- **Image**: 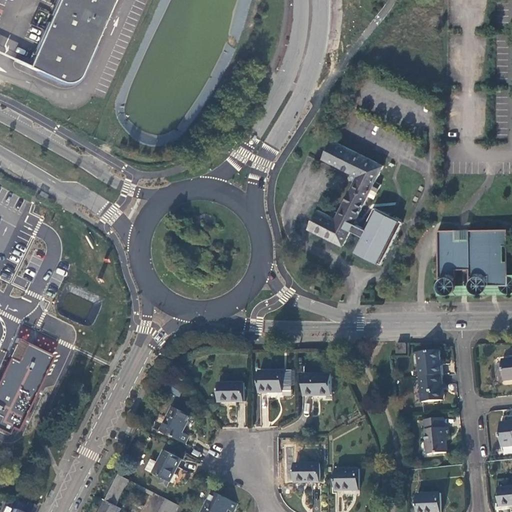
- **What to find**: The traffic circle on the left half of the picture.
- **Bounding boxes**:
[130,178,268,320]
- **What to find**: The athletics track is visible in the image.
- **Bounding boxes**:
[114,0,252,147]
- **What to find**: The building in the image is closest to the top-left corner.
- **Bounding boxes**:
[32,0,122,86]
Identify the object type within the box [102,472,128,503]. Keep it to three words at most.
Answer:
house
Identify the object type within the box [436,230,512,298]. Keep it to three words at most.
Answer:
building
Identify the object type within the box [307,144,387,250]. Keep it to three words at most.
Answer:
building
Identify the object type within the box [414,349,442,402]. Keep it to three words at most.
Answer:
house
